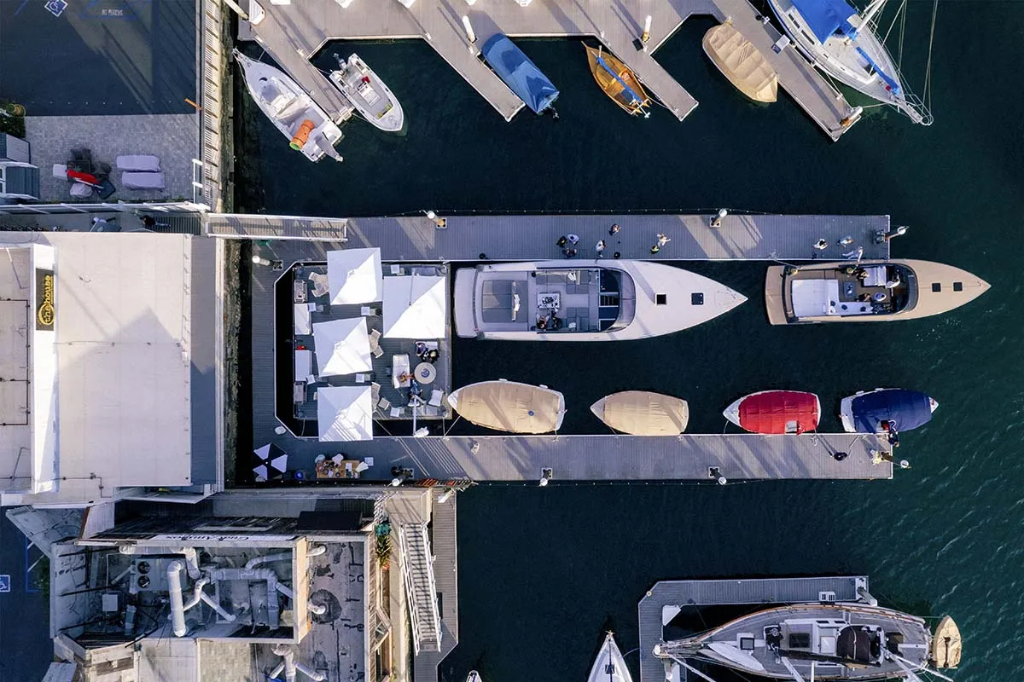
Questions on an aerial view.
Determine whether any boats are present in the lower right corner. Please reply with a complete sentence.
Yes, the scene does show a boat in the lower right corner.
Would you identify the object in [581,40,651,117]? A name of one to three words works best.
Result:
boat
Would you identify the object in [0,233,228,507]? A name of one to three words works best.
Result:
building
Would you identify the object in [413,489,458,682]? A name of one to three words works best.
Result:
pier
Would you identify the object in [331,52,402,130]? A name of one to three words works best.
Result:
boat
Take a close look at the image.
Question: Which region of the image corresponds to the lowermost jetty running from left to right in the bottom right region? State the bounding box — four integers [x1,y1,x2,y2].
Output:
[638,575,869,682]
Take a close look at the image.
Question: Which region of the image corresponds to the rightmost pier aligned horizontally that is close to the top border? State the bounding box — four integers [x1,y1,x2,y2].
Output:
[238,0,863,141]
